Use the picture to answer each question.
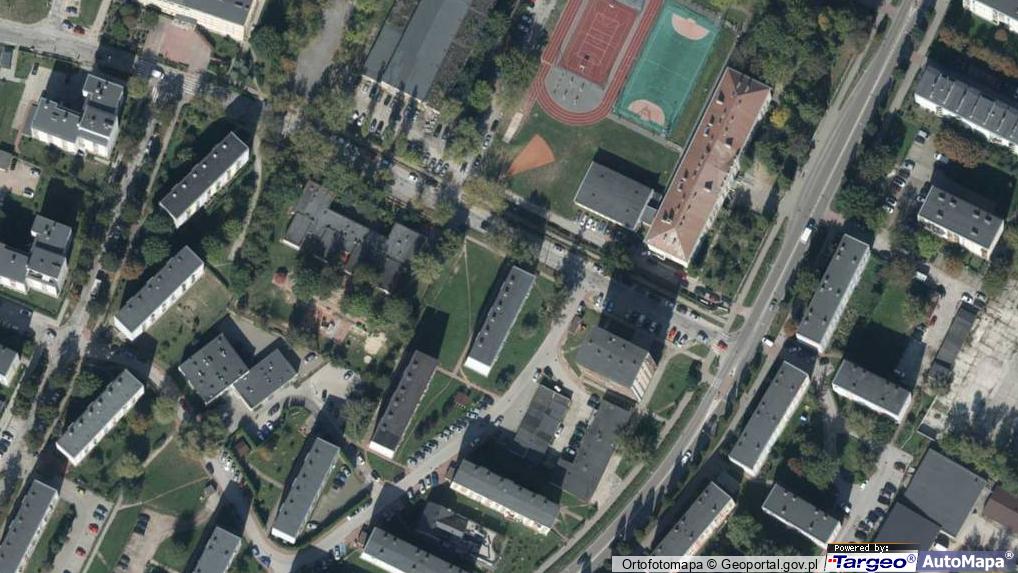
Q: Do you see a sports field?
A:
Yes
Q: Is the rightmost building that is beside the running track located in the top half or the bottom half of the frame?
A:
top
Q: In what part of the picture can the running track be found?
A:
top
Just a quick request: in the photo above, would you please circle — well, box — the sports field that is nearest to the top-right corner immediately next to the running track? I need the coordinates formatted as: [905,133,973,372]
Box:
[615,4,719,134]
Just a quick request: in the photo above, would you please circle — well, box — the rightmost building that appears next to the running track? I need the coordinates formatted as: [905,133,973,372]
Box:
[643,68,771,268]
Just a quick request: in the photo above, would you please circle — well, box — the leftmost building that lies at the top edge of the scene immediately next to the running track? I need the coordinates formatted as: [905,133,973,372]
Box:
[364,0,490,108]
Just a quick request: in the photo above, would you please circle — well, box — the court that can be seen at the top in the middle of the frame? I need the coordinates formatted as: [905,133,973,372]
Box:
[561,0,642,85]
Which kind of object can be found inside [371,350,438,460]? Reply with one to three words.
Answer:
building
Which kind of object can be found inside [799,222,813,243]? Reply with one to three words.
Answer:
vehicle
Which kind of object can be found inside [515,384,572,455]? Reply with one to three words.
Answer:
building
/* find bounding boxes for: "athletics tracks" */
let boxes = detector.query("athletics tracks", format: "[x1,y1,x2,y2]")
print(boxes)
[519,0,664,125]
